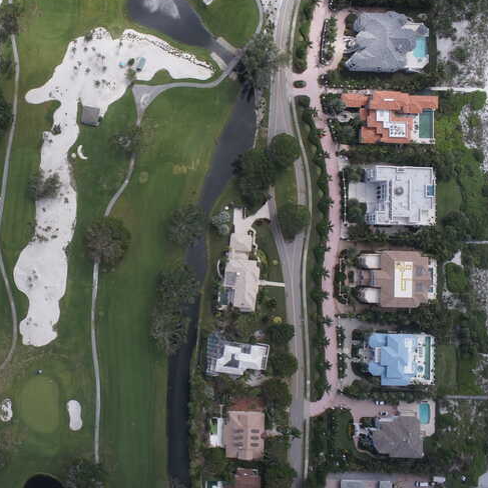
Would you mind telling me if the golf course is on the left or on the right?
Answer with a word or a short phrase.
left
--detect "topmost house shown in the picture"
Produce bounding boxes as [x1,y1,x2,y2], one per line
[341,10,430,73]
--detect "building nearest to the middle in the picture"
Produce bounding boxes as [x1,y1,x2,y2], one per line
[219,232,259,313]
